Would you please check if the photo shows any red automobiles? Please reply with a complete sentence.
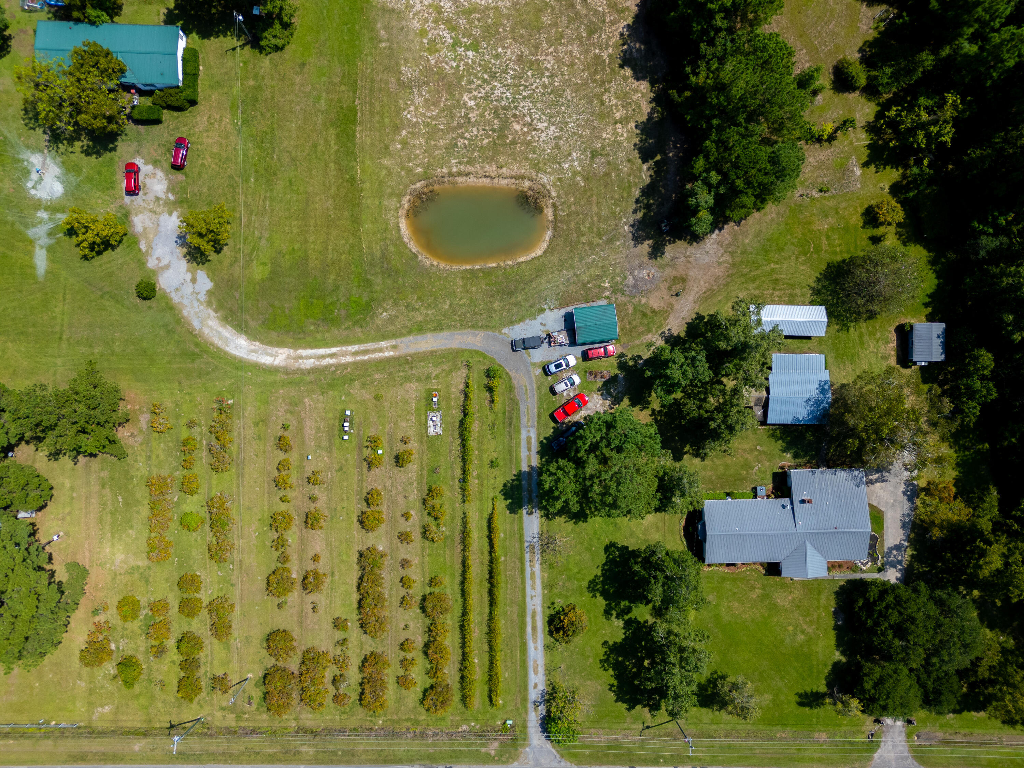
Yes, I can see a red automobile in this picture.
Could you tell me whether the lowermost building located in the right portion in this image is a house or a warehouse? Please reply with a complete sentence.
From above, the lowermost building located in the right portion can be identified as a house.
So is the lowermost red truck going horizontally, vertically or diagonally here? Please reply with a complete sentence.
What the image shows is the lowermost red truck lying diagonally.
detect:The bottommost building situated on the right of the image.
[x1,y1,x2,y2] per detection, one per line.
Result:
[696,468,872,578]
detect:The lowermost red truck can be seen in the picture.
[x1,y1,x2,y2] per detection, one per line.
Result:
[551,393,589,425]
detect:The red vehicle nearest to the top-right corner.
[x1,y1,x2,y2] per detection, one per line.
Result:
[583,344,616,362]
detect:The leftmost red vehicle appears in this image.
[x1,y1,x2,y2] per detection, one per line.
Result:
[124,166,142,197]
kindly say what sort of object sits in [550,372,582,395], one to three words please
car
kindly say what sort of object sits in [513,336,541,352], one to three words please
car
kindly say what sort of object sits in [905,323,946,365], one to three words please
shed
